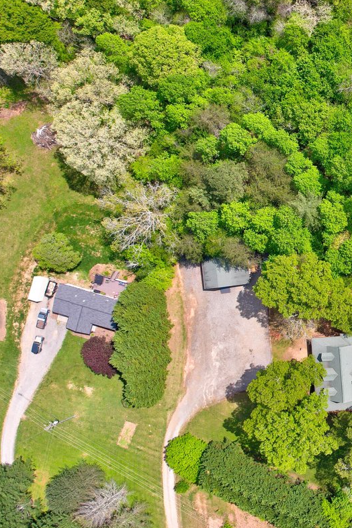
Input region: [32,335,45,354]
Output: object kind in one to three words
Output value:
vehicle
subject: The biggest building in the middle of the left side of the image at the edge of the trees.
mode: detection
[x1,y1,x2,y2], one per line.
[53,282,125,335]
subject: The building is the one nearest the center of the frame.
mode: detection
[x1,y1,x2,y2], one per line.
[201,255,251,289]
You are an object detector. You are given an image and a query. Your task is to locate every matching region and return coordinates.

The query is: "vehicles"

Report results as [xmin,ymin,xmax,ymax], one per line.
[37,307,50,330]
[32,335,45,354]
[45,280,59,298]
